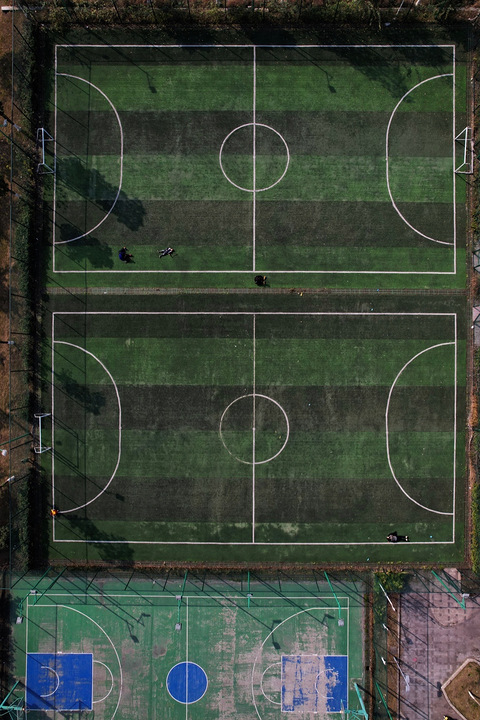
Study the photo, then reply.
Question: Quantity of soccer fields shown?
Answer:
2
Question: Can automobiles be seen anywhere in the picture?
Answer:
No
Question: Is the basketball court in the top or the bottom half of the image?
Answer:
bottom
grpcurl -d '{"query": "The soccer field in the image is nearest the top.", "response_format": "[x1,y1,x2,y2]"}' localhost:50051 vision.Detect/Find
[41,27,466,288]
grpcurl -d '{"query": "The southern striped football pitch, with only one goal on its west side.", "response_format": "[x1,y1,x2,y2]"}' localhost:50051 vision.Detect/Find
[41,294,466,561]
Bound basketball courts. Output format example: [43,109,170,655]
[9,577,364,720]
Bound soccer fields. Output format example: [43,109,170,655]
[41,294,466,561]
[41,27,466,288]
